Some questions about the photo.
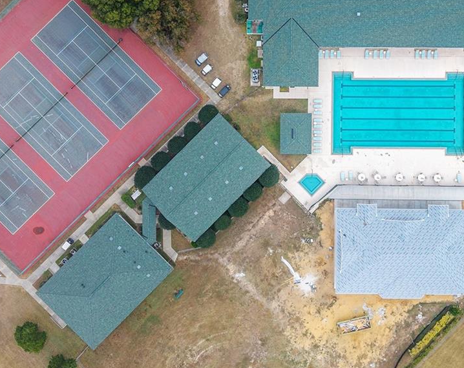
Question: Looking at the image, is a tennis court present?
Yes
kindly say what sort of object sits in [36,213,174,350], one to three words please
building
